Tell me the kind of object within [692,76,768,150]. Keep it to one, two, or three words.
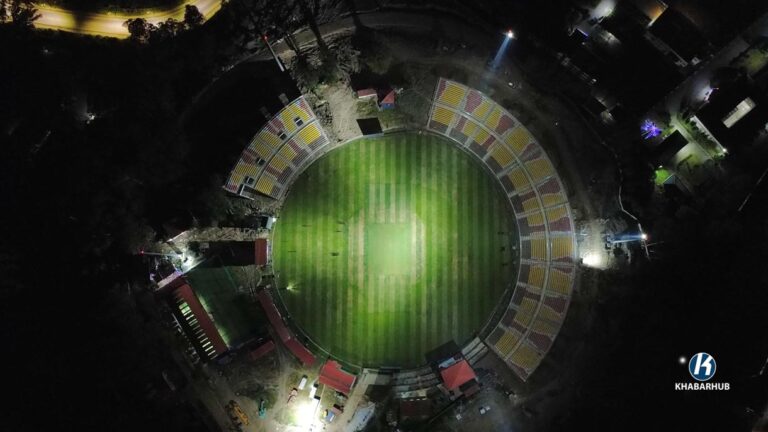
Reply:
house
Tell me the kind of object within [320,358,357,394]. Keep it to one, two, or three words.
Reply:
building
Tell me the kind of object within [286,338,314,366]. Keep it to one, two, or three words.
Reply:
building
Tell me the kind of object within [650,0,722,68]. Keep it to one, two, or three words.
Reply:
house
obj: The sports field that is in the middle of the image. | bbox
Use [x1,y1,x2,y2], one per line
[274,134,518,368]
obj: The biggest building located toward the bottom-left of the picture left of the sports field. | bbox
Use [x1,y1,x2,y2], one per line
[164,283,230,363]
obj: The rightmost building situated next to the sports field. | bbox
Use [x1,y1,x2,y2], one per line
[440,352,479,397]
